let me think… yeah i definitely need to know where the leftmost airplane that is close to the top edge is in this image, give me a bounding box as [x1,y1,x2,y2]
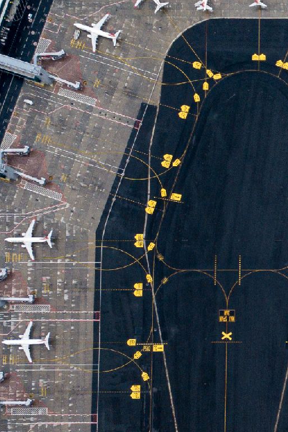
[75,9,118,50]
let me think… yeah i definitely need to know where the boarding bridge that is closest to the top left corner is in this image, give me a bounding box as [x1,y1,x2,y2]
[0,48,83,89]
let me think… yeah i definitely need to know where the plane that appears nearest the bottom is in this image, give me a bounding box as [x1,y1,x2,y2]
[3,319,48,363]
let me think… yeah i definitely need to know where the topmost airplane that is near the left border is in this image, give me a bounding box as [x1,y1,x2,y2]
[6,217,49,260]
